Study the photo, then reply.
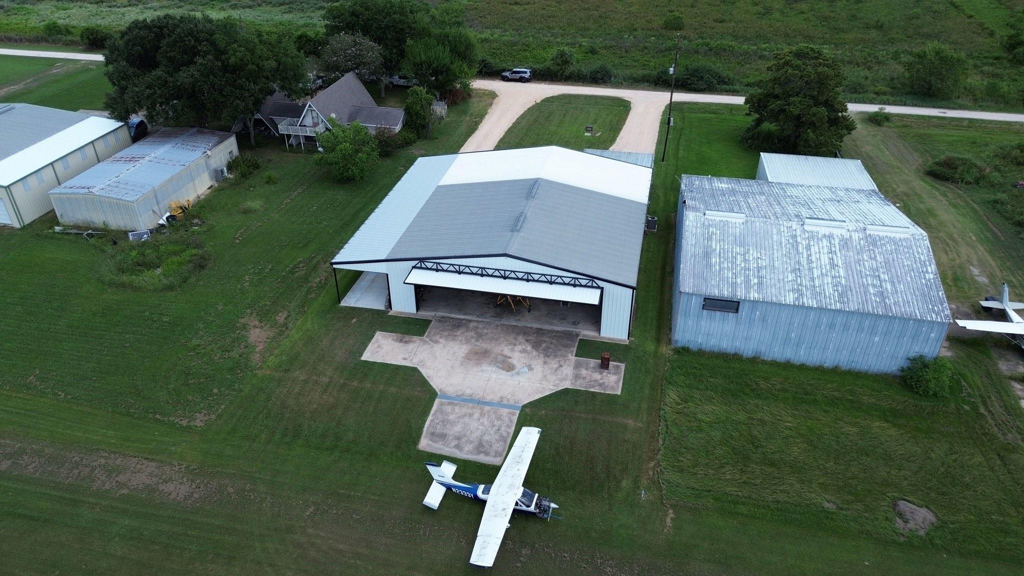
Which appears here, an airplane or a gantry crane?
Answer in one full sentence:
Looking from above, you can make out an airplane.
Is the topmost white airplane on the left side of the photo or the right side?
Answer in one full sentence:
It is on the right.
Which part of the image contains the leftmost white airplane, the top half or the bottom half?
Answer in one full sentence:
The bottom half of the photo is where the leftmost white airplane is.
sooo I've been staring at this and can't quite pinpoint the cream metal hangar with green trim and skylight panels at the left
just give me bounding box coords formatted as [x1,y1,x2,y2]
[0,102,134,228]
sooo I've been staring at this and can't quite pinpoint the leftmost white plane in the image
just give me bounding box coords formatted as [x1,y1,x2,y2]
[421,426,561,568]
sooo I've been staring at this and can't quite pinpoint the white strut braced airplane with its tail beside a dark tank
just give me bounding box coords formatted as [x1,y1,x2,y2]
[956,289,1024,354]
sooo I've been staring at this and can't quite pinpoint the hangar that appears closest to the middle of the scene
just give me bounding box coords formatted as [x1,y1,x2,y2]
[329,144,655,340]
